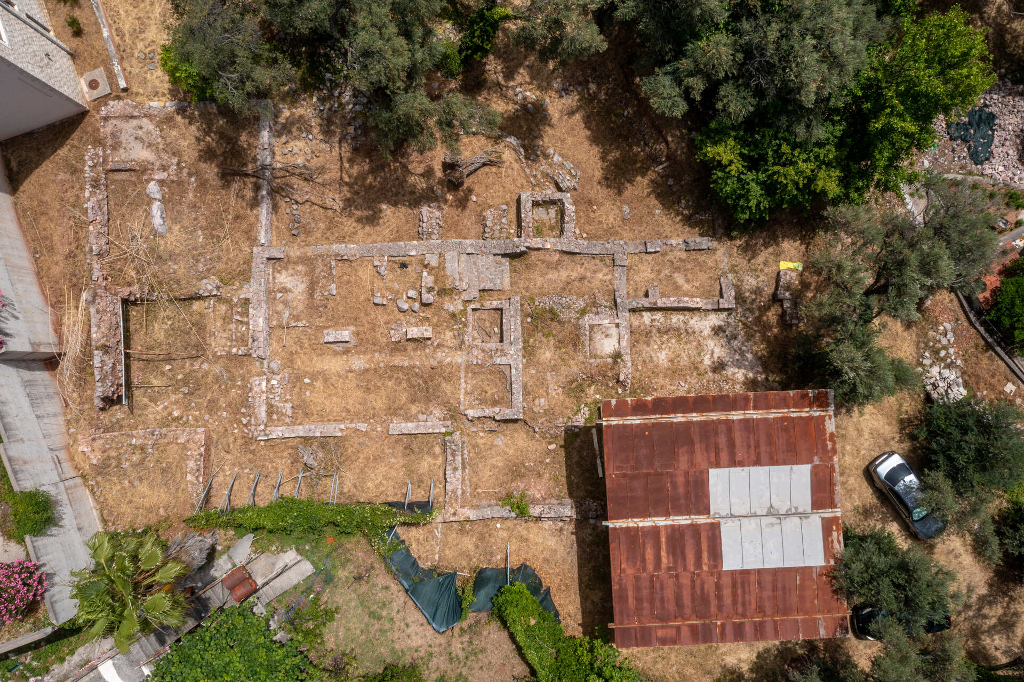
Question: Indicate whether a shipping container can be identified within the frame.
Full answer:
No, the picture doesn't show any shipping container.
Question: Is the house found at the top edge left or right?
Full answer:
The house found at the top edge is on the left side of the image.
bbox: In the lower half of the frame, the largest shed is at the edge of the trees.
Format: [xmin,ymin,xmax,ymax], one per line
[597,390,850,648]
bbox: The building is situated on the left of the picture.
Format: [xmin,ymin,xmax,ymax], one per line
[0,0,89,142]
